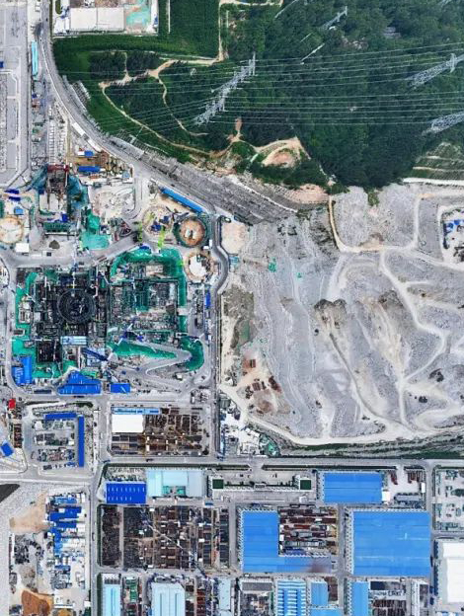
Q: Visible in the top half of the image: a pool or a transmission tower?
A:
transmission tower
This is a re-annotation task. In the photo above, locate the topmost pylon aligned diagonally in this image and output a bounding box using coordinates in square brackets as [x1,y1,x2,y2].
[323,5,347,31]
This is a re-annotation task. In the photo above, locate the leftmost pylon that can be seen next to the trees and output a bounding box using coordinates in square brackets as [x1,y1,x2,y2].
[190,89,225,129]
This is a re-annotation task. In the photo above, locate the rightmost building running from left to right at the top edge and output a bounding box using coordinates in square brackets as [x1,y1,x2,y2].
[70,8,124,32]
